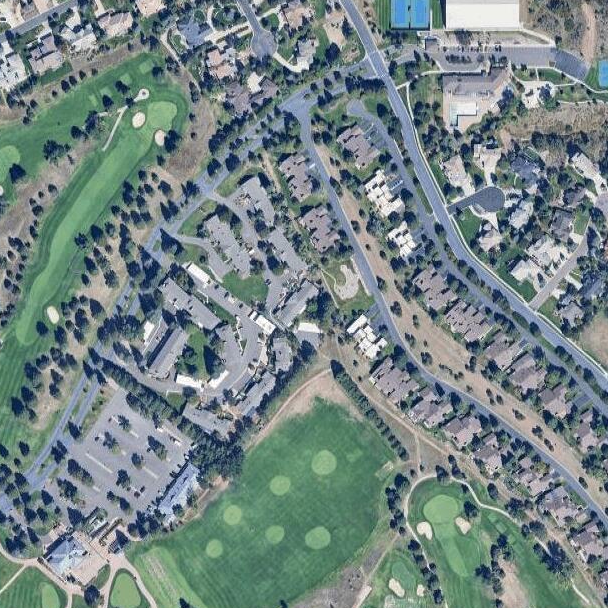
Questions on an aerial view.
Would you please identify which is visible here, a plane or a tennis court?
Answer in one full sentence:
The image shows a tennis court.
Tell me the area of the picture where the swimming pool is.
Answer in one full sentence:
You can find the swimming pool in the top right area of the picture.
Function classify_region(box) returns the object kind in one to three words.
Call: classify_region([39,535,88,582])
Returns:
building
